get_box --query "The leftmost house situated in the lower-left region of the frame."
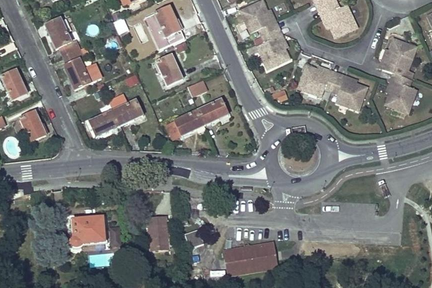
[68,210,107,254]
